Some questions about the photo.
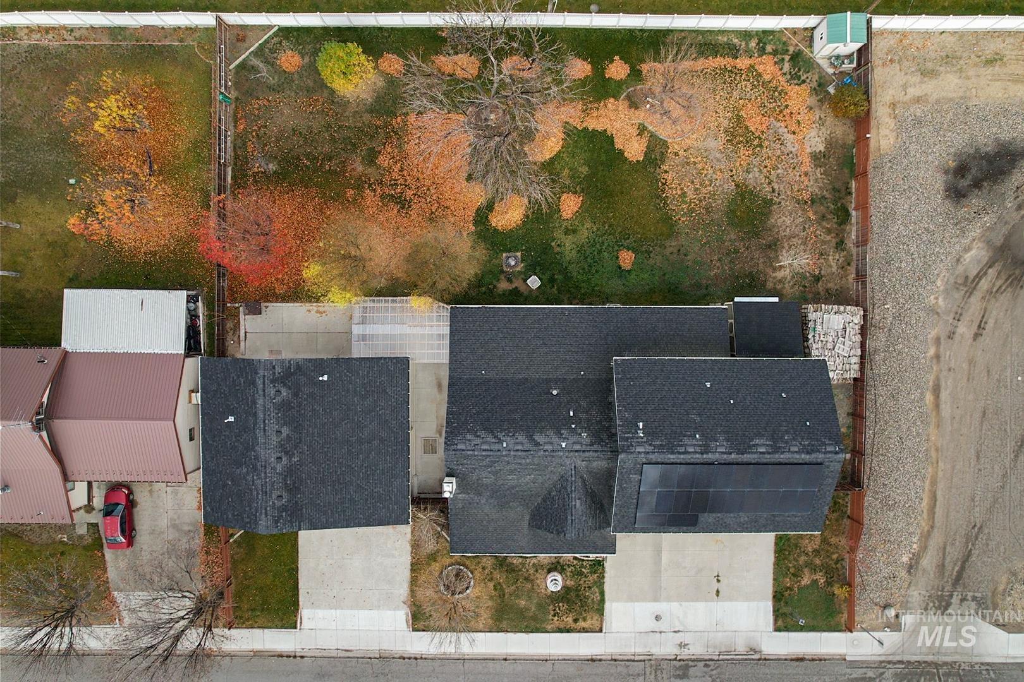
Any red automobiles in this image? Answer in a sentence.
Yes, the image includes a red automobile.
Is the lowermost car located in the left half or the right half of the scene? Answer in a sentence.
The lowermost car is on the left side of the image.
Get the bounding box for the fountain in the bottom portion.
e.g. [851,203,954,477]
[545,568,563,588]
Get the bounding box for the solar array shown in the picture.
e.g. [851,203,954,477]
[637,466,825,529]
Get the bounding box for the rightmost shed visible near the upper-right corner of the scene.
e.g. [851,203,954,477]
[815,8,868,57]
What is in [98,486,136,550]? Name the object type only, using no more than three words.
car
